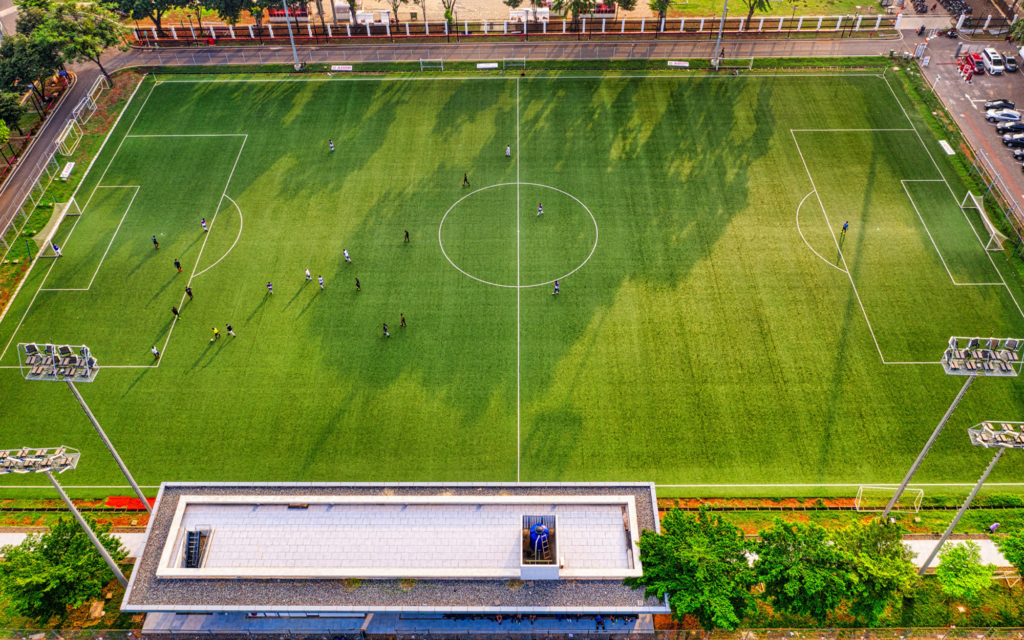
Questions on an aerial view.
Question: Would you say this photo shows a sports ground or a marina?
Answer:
sports ground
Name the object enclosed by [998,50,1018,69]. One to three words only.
car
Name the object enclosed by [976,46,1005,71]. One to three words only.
car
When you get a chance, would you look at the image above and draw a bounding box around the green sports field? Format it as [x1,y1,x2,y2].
[0,70,1024,499]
